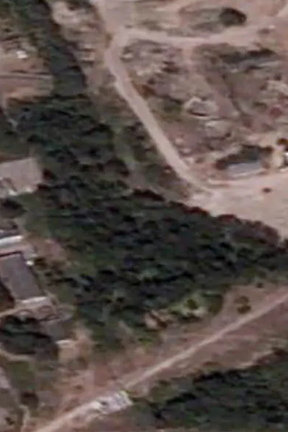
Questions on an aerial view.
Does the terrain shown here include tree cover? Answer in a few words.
Yes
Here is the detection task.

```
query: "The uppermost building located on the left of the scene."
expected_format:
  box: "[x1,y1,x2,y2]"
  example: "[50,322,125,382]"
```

[0,157,41,199]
